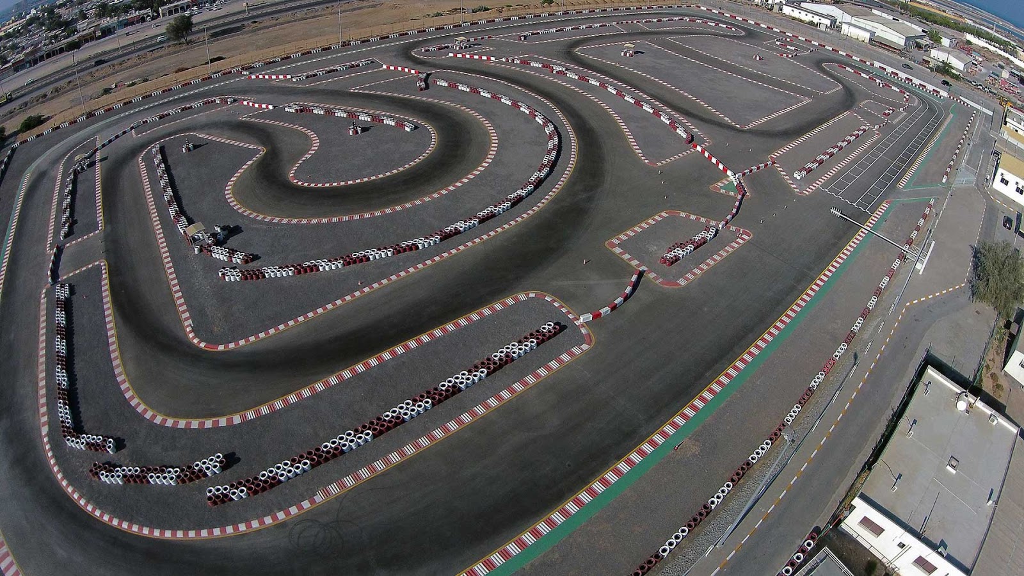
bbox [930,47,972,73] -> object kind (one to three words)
building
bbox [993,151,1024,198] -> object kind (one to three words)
building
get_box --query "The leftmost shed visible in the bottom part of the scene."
[795,547,853,576]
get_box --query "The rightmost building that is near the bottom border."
[826,367,1018,576]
